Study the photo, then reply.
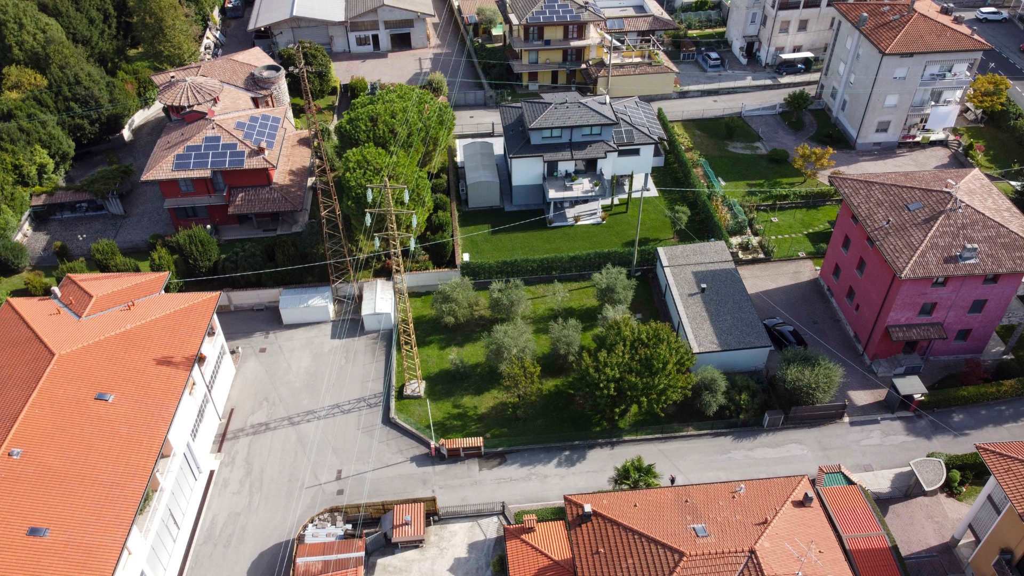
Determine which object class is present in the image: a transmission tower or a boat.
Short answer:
transmission tower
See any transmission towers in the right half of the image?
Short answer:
No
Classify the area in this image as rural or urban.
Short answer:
urban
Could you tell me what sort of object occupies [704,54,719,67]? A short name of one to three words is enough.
vehicle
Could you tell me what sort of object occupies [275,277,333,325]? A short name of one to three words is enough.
shed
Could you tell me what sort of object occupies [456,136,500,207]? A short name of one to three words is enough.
building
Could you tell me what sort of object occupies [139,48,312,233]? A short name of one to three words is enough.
house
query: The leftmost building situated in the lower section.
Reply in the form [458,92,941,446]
[0,270,232,576]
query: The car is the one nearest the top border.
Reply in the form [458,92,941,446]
[979,9,1007,22]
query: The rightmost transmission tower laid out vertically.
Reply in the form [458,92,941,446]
[366,172,426,400]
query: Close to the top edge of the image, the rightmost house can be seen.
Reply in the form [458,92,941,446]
[817,0,995,148]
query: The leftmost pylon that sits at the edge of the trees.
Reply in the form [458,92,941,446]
[288,44,357,319]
